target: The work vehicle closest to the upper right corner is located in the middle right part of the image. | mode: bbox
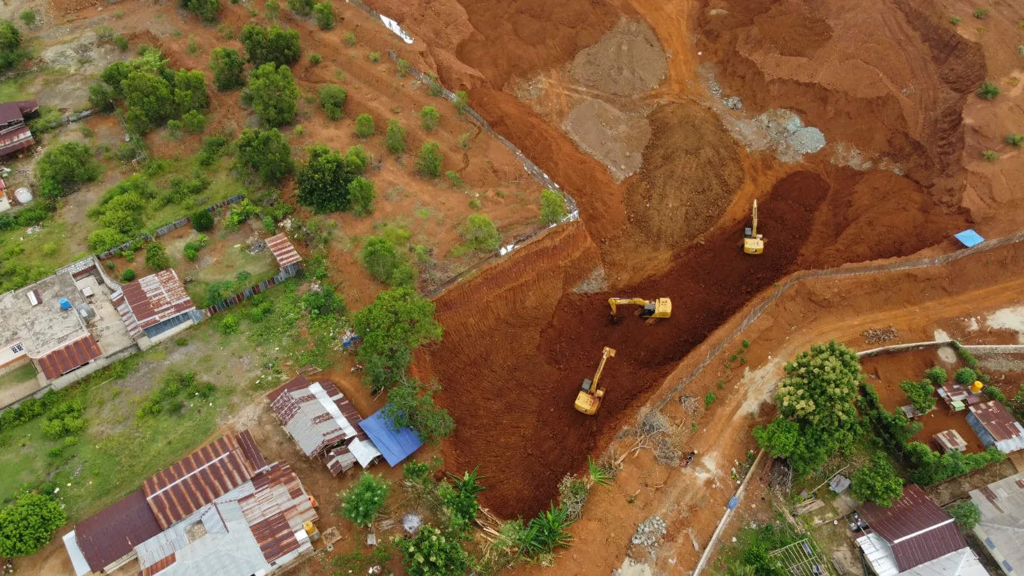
[734,204,766,258]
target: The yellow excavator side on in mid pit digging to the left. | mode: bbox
[606,297,672,326]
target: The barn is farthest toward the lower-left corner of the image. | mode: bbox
[62,488,163,576]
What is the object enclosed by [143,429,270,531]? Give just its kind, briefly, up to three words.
house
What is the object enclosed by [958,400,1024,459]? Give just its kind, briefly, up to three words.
shed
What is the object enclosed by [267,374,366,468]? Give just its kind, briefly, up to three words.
shed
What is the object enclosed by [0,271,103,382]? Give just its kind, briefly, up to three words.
house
